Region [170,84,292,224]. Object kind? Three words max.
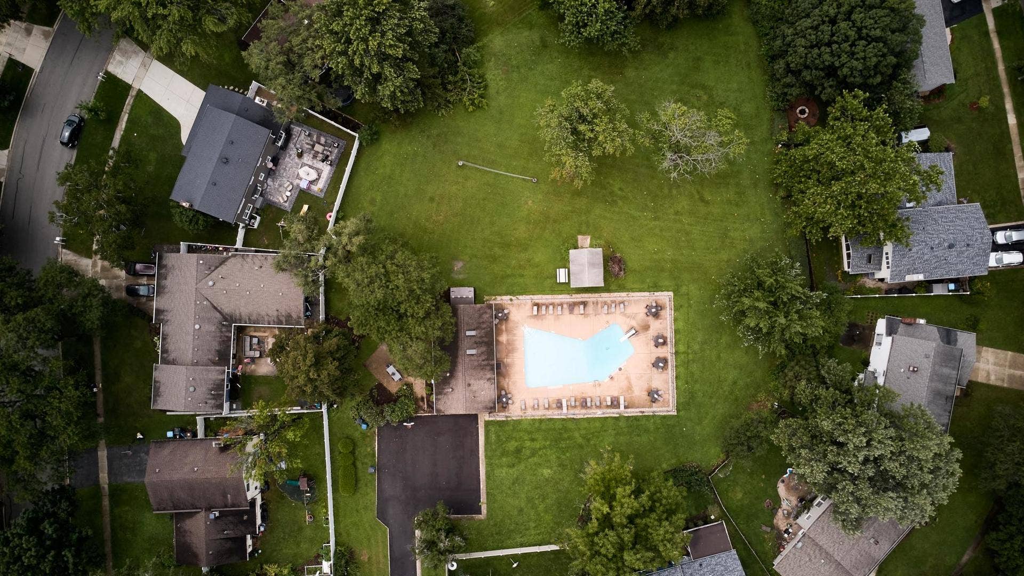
house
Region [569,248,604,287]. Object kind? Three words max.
shed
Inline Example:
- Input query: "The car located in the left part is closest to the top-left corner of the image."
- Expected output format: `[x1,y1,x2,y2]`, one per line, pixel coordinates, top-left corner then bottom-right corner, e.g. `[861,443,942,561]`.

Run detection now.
[57,113,86,150]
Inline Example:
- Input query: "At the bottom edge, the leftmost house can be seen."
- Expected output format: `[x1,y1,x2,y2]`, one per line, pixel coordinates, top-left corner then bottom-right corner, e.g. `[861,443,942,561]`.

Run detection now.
[144,436,264,574]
